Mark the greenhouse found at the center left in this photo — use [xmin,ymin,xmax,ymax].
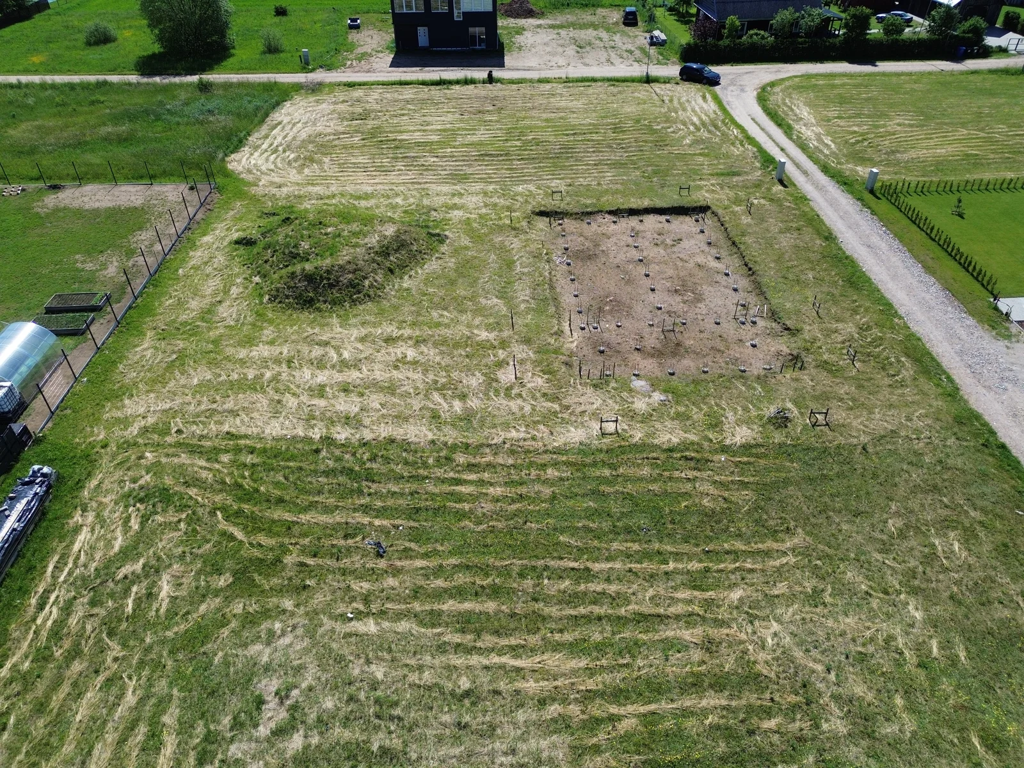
[0,318,69,405]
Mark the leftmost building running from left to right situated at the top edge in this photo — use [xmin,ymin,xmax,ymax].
[391,0,498,52]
